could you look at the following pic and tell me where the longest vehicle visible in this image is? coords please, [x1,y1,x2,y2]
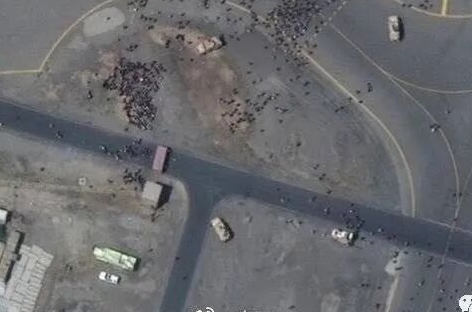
[92,247,137,272]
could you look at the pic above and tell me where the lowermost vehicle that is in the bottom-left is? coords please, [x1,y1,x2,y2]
[100,272,119,284]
